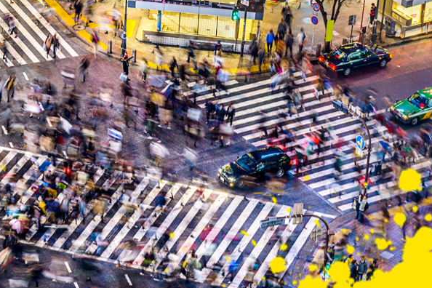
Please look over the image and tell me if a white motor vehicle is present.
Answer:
No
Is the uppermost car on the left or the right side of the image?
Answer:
right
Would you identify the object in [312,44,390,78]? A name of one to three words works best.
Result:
car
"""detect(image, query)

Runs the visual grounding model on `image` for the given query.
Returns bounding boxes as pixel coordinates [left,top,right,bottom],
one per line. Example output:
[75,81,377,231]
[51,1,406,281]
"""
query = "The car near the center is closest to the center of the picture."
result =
[215,140,296,184]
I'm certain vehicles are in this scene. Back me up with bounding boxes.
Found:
[312,44,390,78]
[389,87,432,125]
[215,140,296,184]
